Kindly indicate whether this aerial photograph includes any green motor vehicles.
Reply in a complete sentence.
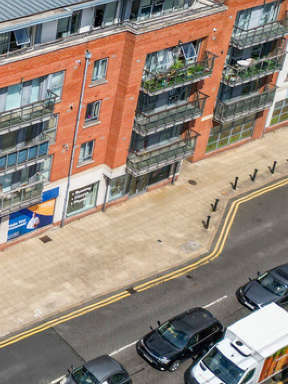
No, the photo shows no green motor vehicle.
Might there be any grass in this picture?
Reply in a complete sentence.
No, no grass is visible.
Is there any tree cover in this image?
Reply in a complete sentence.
No, there is no tree cover in the image.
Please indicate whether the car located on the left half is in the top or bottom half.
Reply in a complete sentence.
The bottom half of the photo is where the car located on the left half is.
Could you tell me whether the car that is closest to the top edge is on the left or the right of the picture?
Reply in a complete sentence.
The car that is closest to the top edge is on the right side of the image.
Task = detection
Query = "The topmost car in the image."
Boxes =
[234,256,288,309]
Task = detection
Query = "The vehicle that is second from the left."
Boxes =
[133,298,225,370]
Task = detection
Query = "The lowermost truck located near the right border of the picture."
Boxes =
[189,294,288,384]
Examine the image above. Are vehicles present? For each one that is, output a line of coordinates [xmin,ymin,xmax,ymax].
[133,298,225,370]
[234,256,288,309]
[62,347,145,384]
[189,294,288,384]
